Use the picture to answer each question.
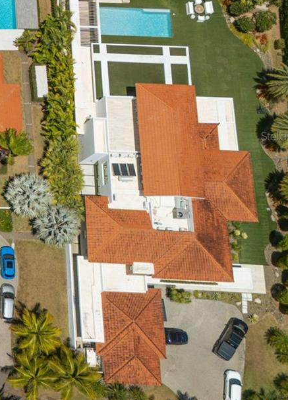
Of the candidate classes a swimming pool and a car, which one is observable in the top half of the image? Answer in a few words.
swimming pool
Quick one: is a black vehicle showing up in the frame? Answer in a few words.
Yes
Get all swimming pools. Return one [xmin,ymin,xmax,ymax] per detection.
[0,0,17,30]
[100,7,173,38]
